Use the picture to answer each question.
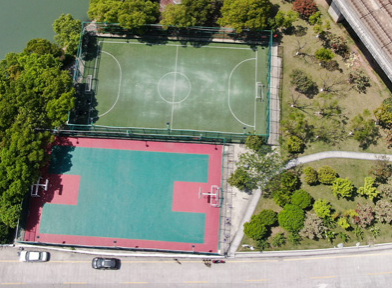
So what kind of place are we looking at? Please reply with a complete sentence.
This image shows a sports ground.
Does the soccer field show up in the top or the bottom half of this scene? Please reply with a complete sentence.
It is in the top half that the soccer field appears.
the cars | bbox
[20,249,49,263]
[91,256,119,271]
